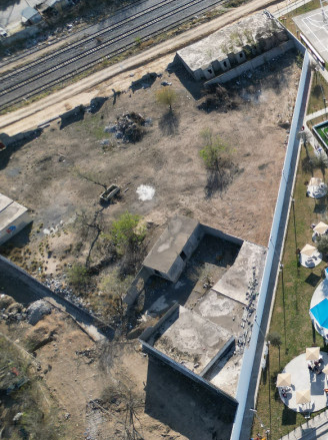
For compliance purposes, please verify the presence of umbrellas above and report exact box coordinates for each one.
[275,373,294,391]
[305,346,322,364]
[299,242,319,260]
[310,177,324,190]
[295,389,313,408]
[311,223,328,239]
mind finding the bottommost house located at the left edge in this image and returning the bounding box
[0,193,36,245]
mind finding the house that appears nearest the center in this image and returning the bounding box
[142,216,208,287]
